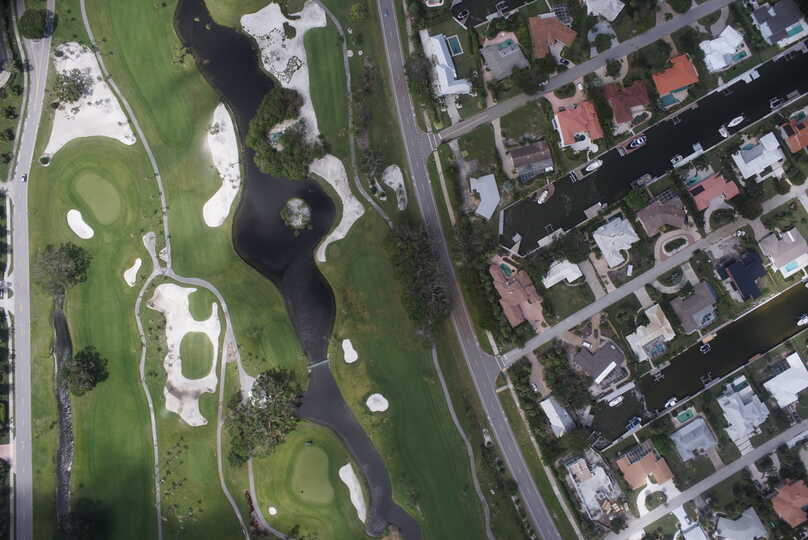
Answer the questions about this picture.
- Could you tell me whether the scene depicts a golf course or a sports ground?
golf course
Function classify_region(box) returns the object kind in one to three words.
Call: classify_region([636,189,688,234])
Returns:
house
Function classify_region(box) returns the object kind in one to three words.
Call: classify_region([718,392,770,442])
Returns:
house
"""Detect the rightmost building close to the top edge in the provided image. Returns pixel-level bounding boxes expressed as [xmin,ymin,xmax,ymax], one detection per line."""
[751,0,802,45]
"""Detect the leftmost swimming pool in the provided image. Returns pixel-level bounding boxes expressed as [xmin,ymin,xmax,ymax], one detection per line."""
[448,35,463,55]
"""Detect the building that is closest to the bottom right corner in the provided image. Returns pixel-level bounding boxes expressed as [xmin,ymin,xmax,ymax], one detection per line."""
[770,478,808,529]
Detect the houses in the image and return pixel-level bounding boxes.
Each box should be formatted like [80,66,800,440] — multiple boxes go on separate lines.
[636,189,688,234]
[574,337,621,383]
[584,0,625,24]
[717,250,766,302]
[554,99,605,147]
[689,173,738,208]
[481,41,532,86]
[699,24,743,71]
[625,305,676,363]
[428,34,473,98]
[489,267,543,328]
[595,214,638,268]
[650,54,699,115]
[470,174,500,219]
[616,441,672,491]
[764,352,808,401]
[715,506,768,540]
[599,79,651,126]
[780,109,808,153]
[731,130,785,178]
[539,396,574,437]
[718,392,770,442]
[682,525,705,540]
[669,280,716,335]
[770,478,808,529]
[760,227,808,272]
[671,419,716,460]
[529,0,577,60]
[751,0,802,45]
[541,261,583,289]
